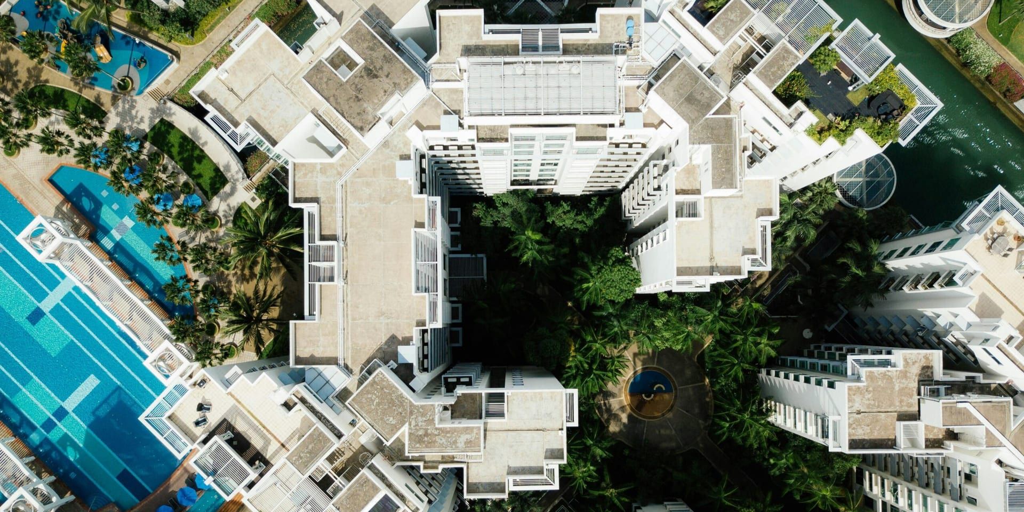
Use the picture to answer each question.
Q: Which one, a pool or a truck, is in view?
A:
pool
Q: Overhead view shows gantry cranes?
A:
No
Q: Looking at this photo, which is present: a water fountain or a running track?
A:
water fountain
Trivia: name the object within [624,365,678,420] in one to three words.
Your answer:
fountain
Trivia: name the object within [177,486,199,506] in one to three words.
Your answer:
umbrella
